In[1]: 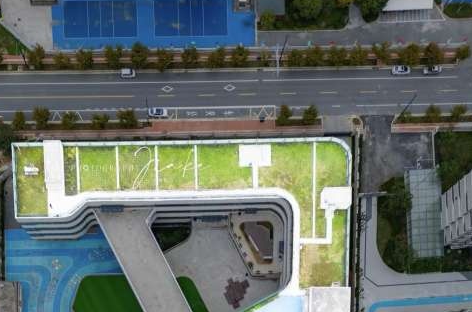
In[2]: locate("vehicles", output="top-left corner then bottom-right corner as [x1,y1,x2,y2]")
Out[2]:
[149,109,166,117]
[422,66,440,75]
[120,69,137,78]
[392,66,409,75]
